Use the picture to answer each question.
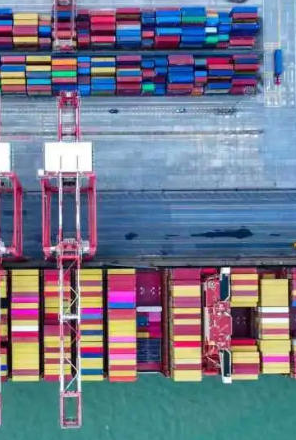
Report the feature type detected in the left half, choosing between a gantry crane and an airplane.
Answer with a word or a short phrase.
gantry crane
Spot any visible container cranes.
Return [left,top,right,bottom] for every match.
[36,90,96,430]
[0,90,27,430]
[53,0,76,56]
